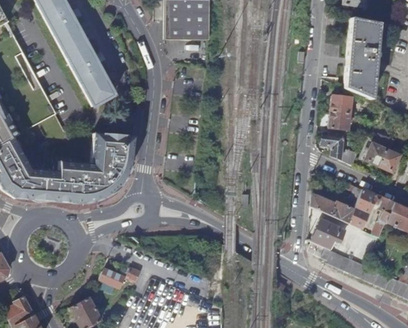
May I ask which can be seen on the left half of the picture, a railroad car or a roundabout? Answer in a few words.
roundabout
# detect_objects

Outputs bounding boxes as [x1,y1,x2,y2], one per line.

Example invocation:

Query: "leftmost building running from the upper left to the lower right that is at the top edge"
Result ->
[30,0,118,108]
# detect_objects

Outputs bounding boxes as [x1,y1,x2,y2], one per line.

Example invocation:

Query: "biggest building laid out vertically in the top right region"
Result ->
[344,18,384,104]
